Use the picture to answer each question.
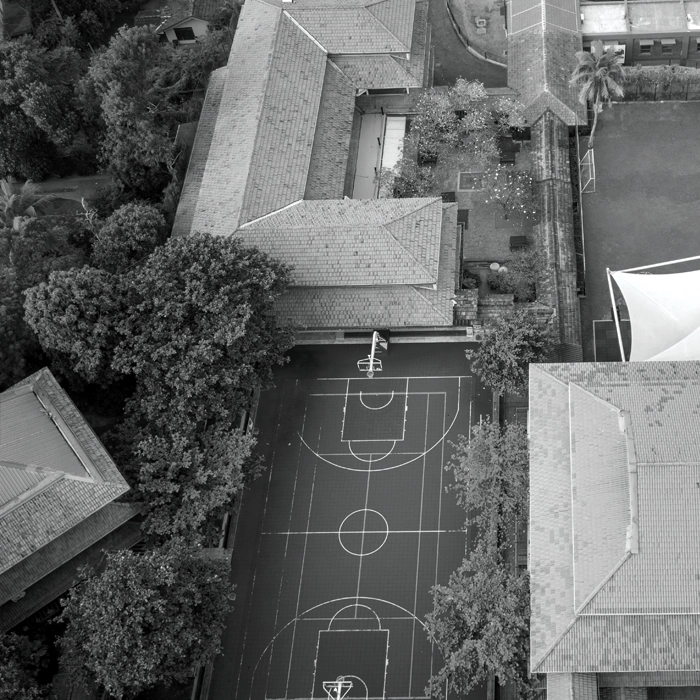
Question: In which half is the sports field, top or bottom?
top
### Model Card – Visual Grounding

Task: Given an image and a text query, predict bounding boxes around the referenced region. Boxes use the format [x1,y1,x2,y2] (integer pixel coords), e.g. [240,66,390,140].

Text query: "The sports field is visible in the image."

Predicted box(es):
[579,99,700,360]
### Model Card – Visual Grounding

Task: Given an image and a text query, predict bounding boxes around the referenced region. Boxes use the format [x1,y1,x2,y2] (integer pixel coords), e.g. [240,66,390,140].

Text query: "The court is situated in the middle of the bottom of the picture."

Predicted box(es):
[211,342,496,700]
